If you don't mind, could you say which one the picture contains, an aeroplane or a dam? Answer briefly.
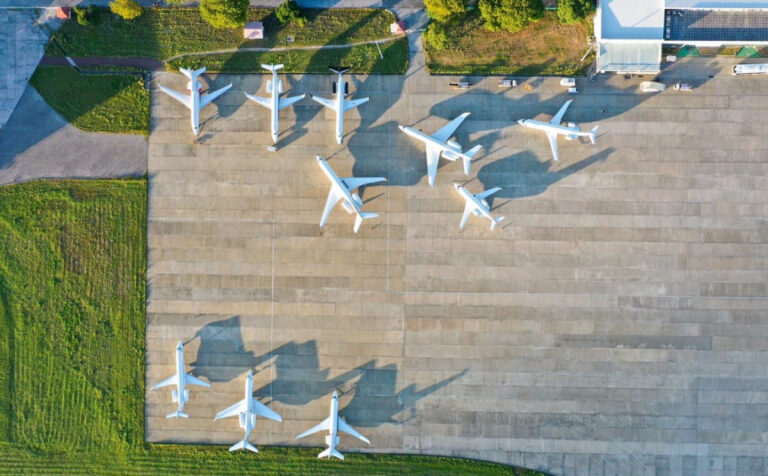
aeroplane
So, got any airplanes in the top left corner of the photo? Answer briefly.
Yes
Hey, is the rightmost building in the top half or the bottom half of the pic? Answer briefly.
top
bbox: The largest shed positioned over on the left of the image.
[243,22,264,40]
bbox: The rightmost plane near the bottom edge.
[296,391,370,457]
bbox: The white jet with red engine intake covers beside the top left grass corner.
[157,67,230,134]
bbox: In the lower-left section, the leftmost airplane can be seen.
[151,341,210,418]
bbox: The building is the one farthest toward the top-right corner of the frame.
[662,0,768,46]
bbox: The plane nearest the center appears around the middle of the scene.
[317,156,386,233]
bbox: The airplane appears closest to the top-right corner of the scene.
[518,99,598,161]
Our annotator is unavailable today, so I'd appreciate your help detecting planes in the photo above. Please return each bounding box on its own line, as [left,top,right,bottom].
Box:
[213,370,280,454]
[399,110,483,187]
[317,156,386,233]
[454,184,506,231]
[244,65,304,143]
[310,67,369,143]
[157,67,230,134]
[518,99,598,161]
[296,391,370,457]
[151,341,210,418]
